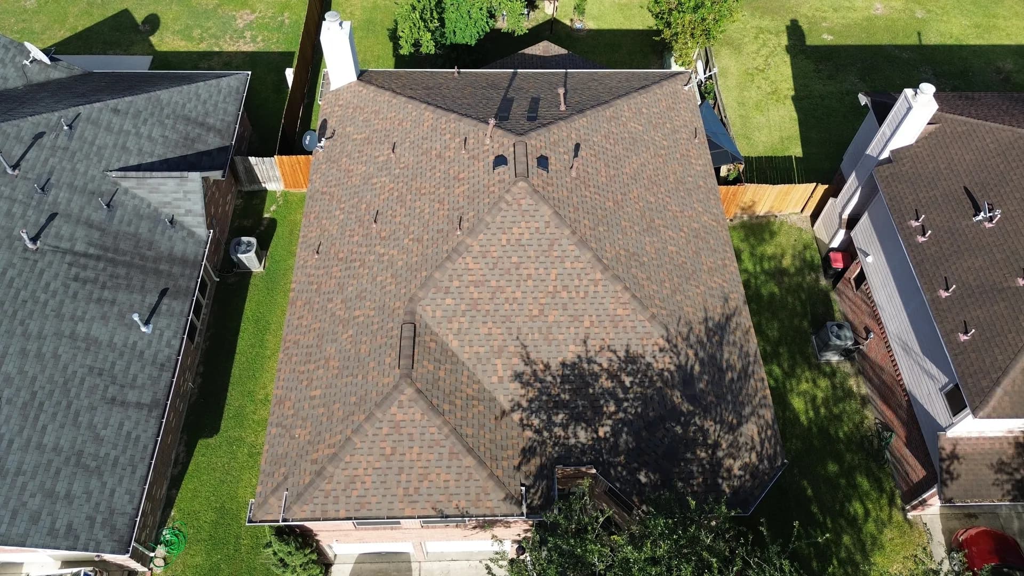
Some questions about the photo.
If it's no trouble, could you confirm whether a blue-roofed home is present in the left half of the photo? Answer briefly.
No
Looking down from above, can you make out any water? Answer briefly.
No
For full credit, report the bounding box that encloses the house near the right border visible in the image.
[813,82,1024,509]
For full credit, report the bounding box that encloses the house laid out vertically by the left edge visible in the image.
[0,34,254,570]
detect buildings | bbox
[245,14,790,564]
[0,34,254,570]
[813,82,1024,509]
